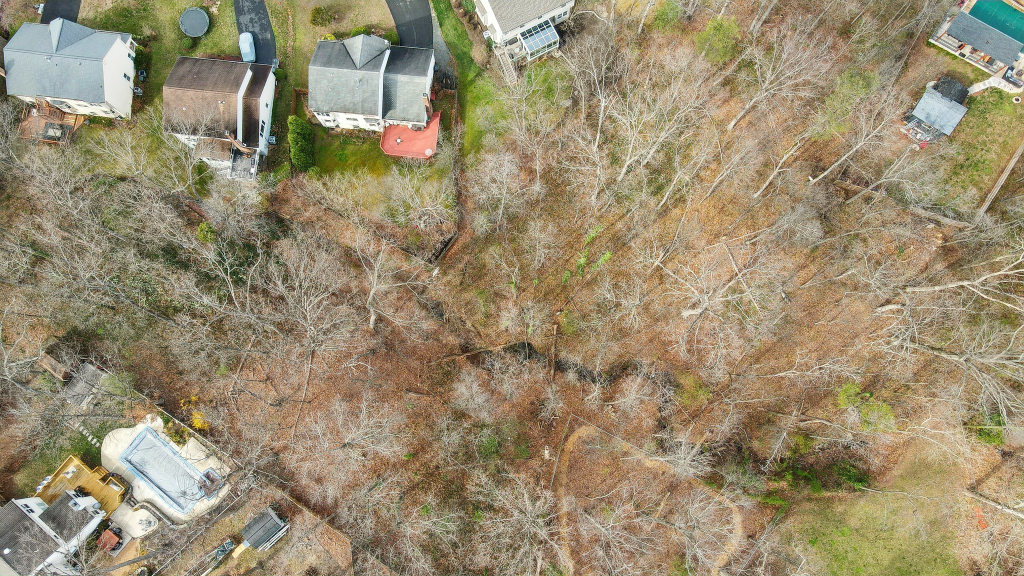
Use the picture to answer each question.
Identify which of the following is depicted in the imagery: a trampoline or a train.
trampoline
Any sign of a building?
Yes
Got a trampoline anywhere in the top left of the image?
Yes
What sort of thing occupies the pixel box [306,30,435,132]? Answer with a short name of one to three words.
house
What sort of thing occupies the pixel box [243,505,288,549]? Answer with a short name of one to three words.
shed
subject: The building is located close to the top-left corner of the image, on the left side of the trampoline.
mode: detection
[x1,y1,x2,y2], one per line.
[0,13,148,121]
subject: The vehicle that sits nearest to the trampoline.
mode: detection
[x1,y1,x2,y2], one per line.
[241,34,258,64]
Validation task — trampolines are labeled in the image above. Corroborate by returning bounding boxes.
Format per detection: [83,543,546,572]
[180,8,211,43]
